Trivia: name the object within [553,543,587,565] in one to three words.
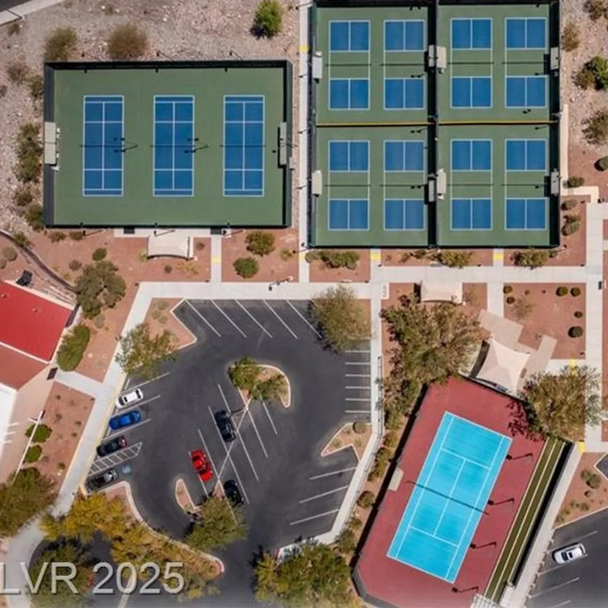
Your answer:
car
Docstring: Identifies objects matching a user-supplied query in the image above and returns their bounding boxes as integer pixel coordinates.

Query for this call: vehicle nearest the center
[214,408,237,442]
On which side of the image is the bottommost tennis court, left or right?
right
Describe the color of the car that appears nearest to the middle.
black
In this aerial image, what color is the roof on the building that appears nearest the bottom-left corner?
red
